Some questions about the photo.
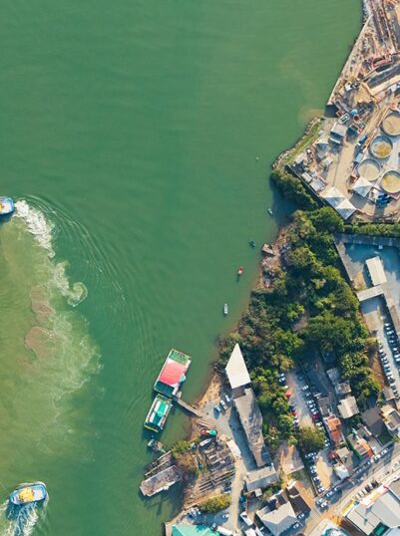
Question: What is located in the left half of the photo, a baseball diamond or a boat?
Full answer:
Looking in the left half of the photo, you will find a boat.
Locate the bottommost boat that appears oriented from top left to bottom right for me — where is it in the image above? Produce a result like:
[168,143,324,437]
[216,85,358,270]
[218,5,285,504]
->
[148,439,166,454]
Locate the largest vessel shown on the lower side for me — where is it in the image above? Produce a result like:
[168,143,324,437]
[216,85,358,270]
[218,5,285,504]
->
[154,349,191,398]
